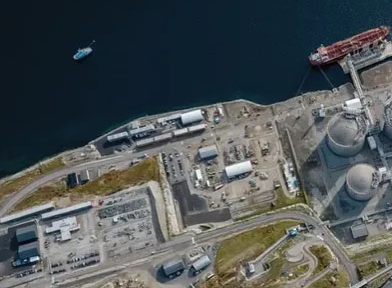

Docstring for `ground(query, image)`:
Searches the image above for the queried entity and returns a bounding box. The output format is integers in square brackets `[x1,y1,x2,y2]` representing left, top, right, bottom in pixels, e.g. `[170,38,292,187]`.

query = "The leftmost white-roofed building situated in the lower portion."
[0,203,56,225]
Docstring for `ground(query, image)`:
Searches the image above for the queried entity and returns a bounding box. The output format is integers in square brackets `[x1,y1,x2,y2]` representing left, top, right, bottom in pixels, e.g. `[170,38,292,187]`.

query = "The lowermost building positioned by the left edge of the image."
[15,241,40,261]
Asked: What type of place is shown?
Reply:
port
